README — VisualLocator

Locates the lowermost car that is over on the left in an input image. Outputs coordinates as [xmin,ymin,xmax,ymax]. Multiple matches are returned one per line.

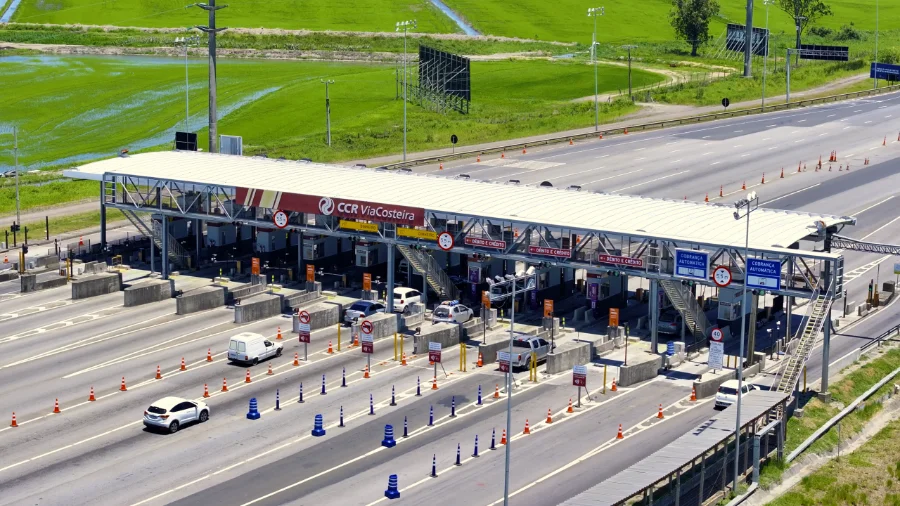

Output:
[150,394,216,430]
